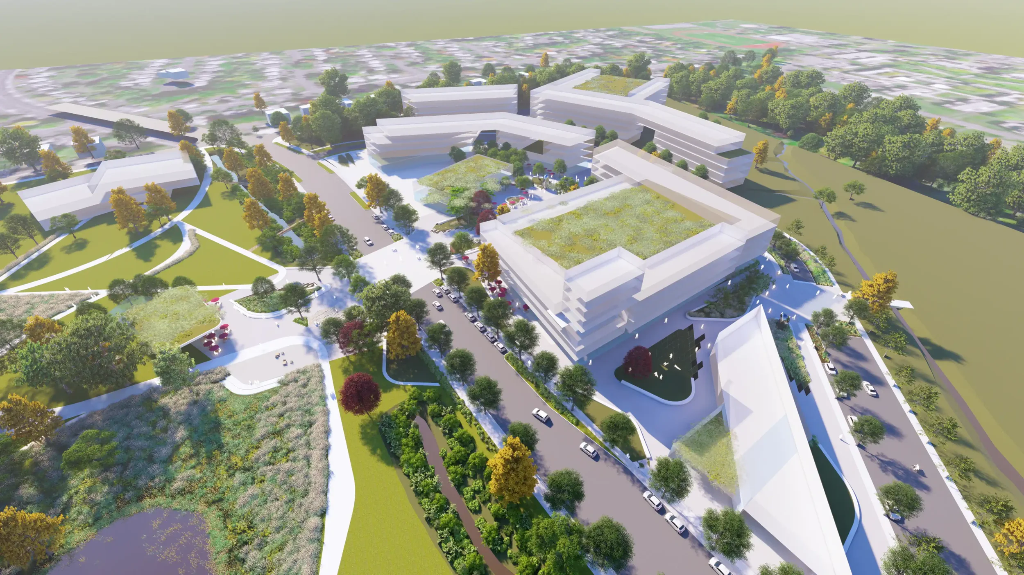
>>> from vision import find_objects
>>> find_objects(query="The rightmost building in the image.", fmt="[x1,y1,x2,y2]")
[711,315,837,575]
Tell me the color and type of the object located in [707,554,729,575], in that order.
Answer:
white car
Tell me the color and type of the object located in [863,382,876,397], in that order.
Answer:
white vehicle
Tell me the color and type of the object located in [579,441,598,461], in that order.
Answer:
white car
